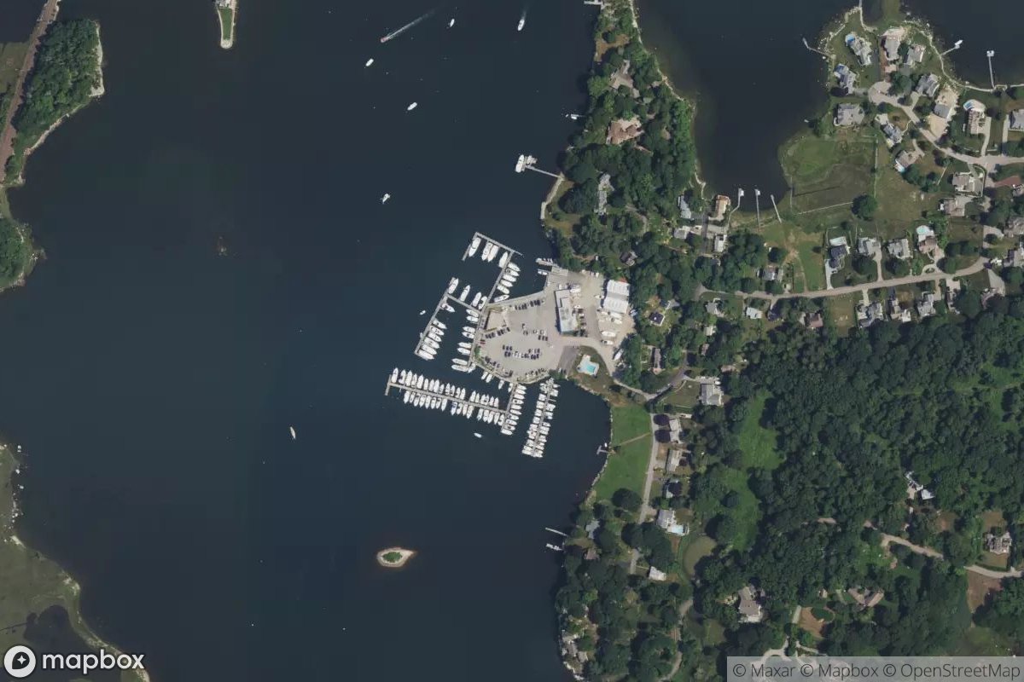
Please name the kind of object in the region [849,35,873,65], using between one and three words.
house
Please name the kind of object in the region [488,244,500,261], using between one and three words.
boat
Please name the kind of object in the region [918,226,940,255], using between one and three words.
house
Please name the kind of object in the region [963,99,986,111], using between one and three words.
swimming pool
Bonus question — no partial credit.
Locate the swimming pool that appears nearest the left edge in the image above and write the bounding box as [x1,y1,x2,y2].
[577,355,599,375]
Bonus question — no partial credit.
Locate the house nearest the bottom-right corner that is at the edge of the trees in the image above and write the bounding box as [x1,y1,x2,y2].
[984,531,1011,553]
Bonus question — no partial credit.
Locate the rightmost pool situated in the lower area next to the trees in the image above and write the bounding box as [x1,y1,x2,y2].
[672,522,689,536]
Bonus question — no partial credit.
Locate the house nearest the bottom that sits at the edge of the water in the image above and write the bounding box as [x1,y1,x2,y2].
[562,635,588,663]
